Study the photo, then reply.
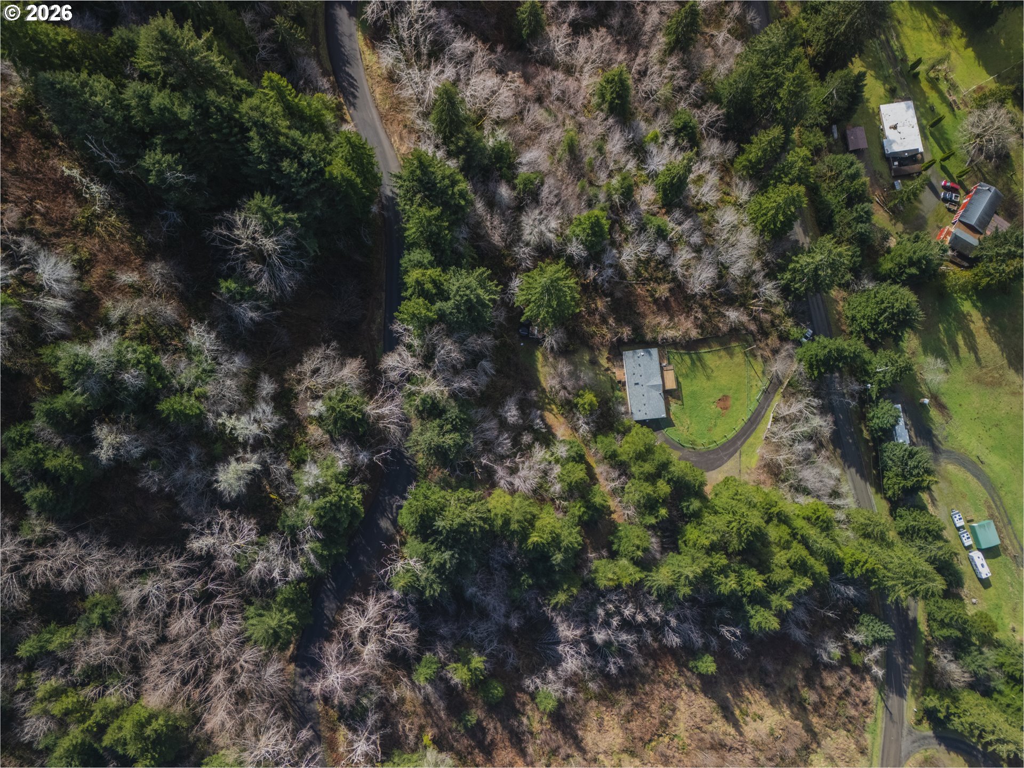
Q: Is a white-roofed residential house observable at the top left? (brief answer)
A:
No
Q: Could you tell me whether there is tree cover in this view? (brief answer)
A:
Yes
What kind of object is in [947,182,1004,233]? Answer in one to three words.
barn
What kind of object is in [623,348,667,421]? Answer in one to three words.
house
